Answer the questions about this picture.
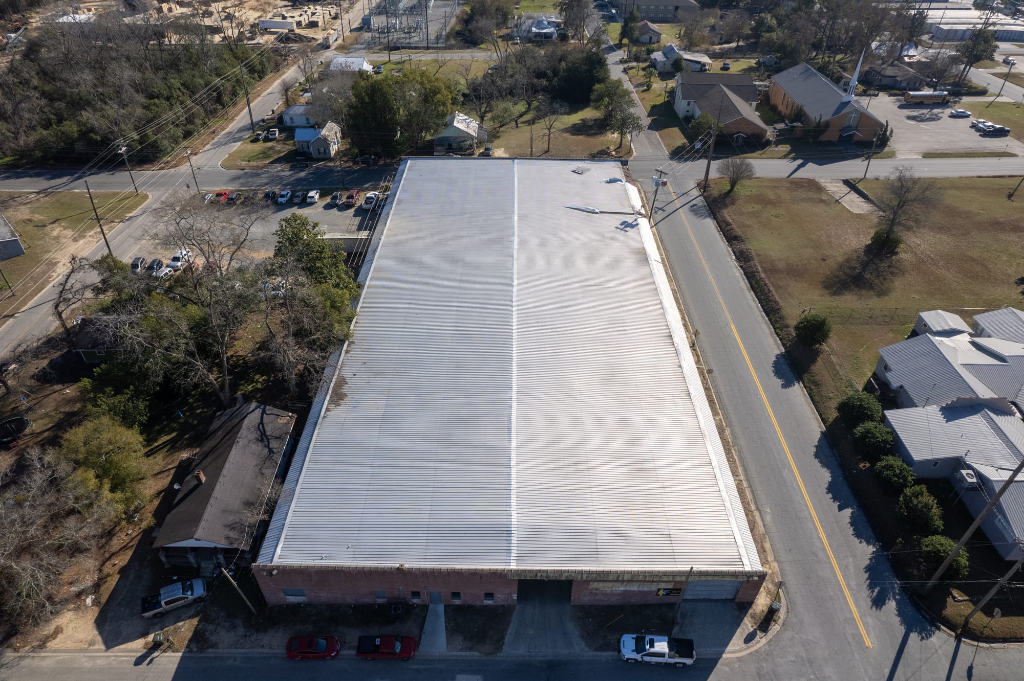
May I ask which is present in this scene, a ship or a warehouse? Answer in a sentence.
Of the two, only a warehouse appears.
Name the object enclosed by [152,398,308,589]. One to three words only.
house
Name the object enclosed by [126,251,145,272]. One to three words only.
car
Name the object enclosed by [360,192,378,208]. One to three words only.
vehicle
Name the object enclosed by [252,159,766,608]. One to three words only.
warehouse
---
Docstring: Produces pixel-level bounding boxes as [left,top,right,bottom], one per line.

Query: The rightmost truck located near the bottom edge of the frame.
[622,638,696,674]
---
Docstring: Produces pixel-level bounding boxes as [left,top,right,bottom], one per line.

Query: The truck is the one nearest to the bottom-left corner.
[138,582,207,621]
